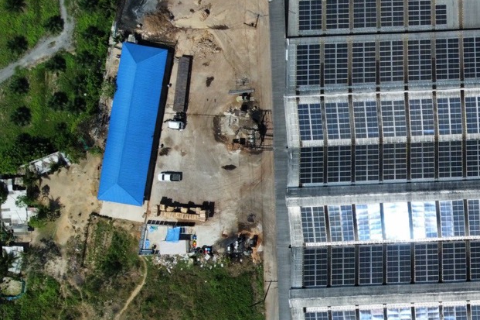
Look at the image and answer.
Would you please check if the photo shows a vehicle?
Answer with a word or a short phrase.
Yes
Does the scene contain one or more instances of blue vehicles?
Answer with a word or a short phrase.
No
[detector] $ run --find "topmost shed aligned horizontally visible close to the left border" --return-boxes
[21,152,77,174]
